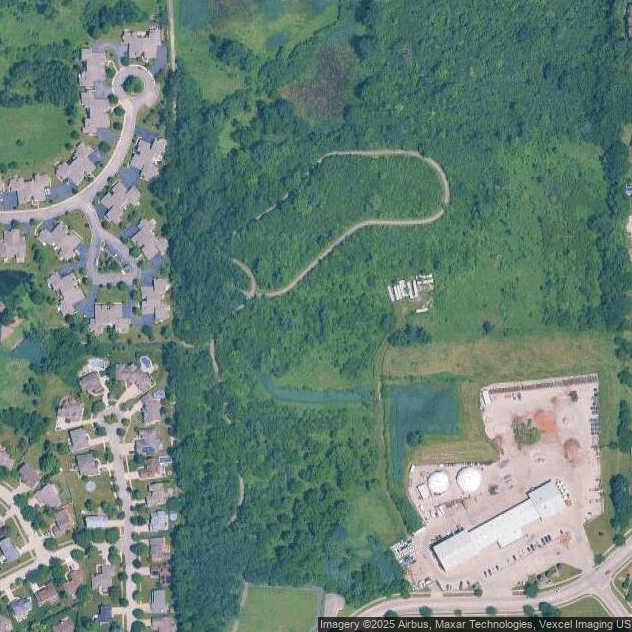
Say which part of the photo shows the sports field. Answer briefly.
bottom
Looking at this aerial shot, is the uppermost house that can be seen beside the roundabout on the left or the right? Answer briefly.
left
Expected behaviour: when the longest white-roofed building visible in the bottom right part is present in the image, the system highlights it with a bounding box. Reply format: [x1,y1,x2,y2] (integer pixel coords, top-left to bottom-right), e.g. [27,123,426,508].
[434,483,566,571]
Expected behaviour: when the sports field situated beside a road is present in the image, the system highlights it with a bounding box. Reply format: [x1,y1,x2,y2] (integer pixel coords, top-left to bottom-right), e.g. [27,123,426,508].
[233,580,323,632]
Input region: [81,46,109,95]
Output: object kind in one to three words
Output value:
house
